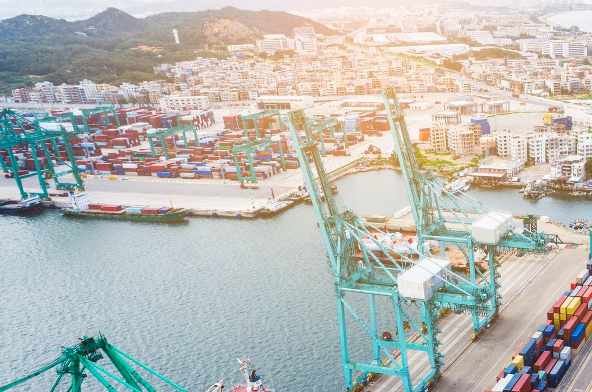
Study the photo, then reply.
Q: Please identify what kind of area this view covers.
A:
port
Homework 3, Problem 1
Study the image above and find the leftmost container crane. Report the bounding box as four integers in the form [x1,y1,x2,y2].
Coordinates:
[0,114,31,196]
